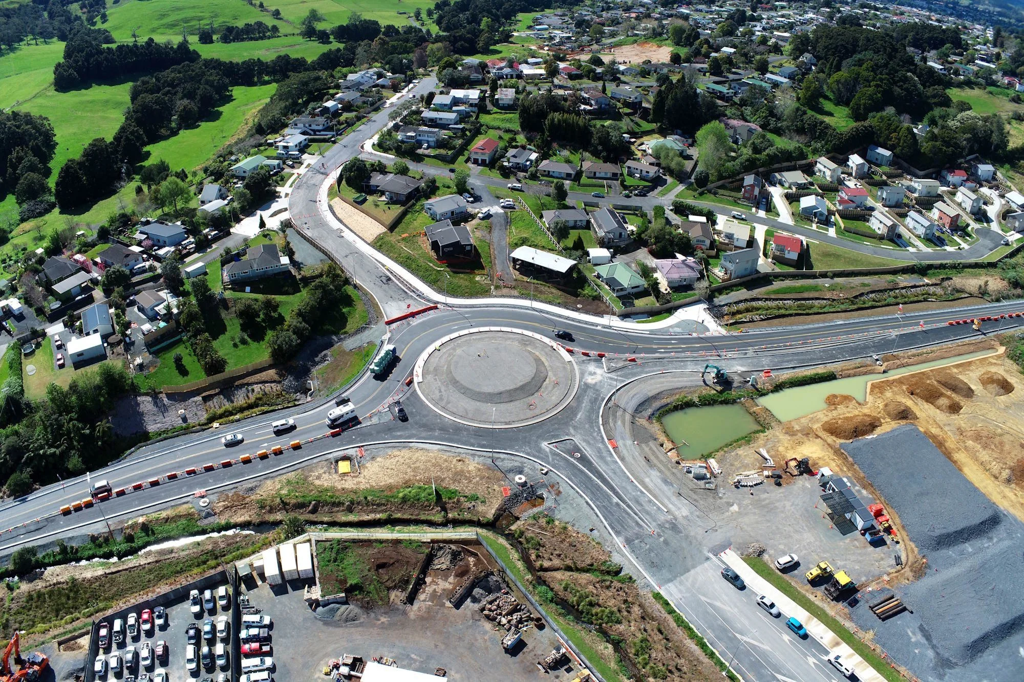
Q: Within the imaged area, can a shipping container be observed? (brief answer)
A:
Yes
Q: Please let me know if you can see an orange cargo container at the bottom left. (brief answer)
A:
No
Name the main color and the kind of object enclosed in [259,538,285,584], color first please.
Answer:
white shipping container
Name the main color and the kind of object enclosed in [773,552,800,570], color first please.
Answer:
white car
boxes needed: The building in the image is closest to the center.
[512,247,577,286]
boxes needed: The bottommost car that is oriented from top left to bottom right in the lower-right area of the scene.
[824,650,858,680]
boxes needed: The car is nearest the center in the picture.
[554,328,573,340]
